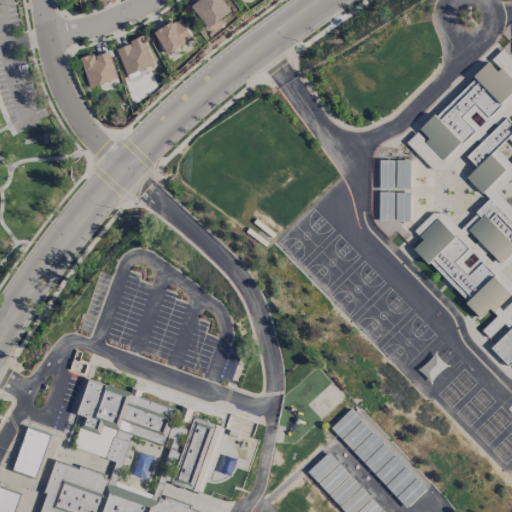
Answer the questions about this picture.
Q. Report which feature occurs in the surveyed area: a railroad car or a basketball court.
basketball court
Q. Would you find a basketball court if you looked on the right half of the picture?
Yes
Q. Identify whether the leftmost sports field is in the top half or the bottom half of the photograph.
top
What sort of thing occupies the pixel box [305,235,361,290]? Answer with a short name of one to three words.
basketball court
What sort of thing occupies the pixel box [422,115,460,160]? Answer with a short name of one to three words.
building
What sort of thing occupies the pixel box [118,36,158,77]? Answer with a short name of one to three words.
house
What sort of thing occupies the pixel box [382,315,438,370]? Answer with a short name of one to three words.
basketball court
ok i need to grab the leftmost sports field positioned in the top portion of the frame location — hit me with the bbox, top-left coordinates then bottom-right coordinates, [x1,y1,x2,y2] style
[184,99,342,231]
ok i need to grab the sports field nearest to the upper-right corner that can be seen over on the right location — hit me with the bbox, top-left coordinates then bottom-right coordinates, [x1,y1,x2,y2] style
[328,22,442,117]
